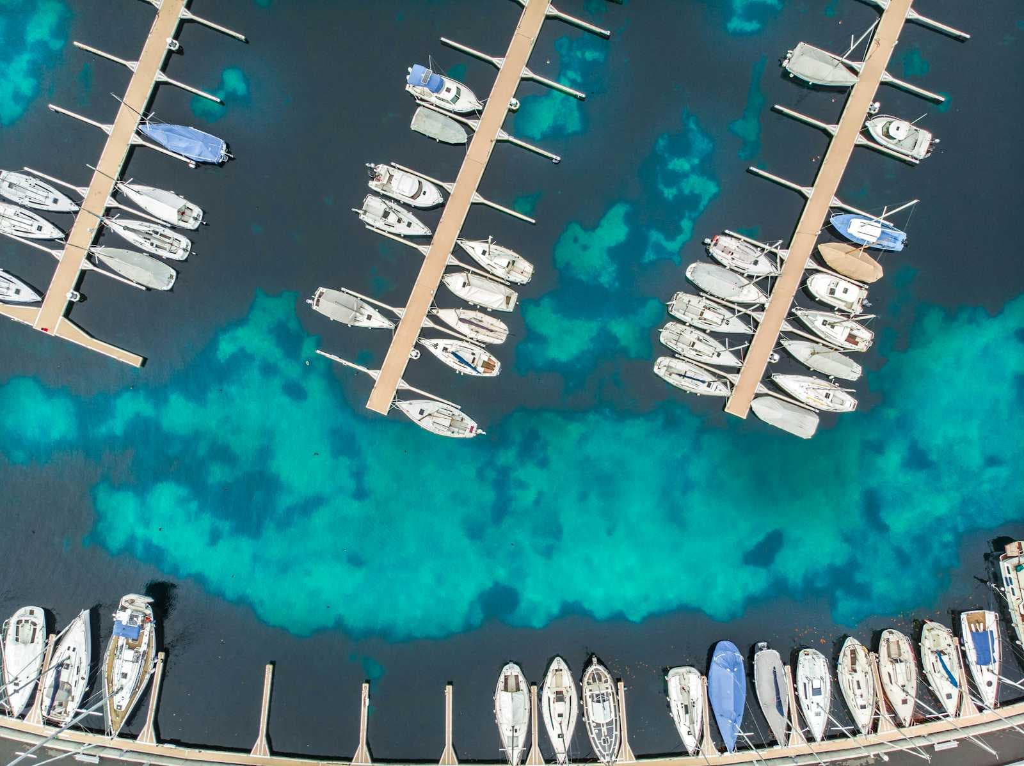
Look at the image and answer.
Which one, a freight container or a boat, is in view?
boat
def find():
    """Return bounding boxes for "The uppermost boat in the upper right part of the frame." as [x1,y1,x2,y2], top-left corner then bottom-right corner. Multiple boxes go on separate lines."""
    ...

[783,22,881,86]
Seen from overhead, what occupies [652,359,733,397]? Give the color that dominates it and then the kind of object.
white boat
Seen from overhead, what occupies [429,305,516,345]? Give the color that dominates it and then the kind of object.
white boat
